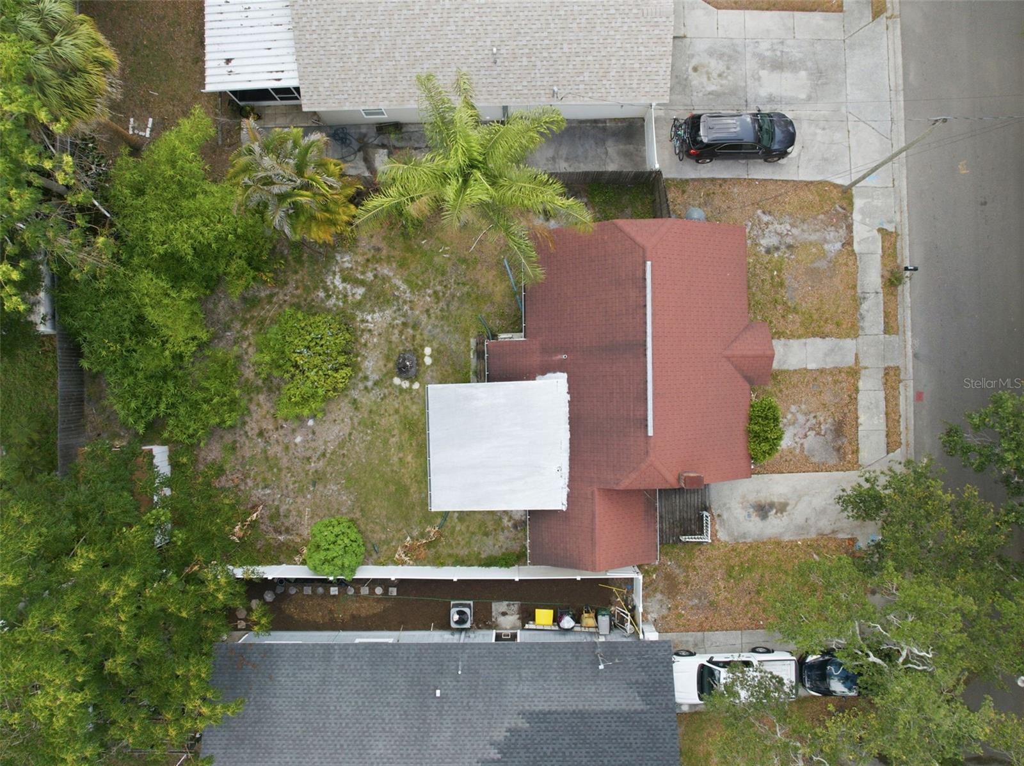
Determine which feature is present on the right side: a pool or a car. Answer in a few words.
car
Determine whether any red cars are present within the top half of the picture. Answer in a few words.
No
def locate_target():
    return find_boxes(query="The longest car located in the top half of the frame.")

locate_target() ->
[672,106,794,162]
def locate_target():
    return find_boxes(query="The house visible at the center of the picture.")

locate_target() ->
[424,216,774,571]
